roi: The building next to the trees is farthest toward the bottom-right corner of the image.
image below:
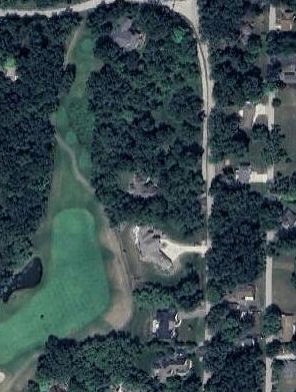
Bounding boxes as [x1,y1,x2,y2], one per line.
[271,356,296,382]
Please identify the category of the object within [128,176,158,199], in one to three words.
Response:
house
